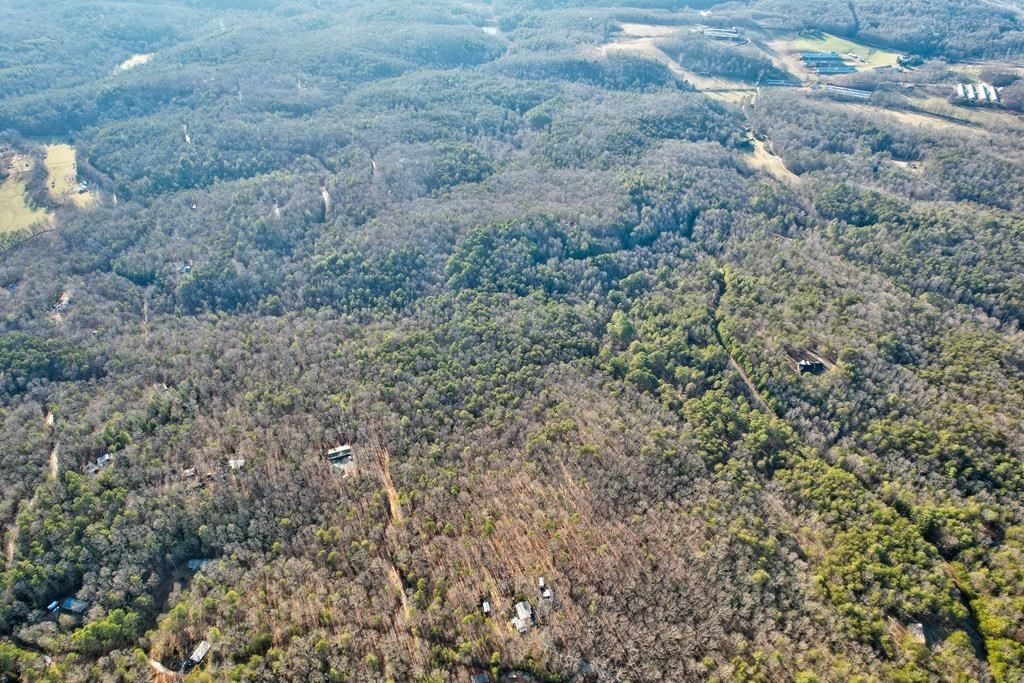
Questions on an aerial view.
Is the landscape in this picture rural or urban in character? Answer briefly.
rural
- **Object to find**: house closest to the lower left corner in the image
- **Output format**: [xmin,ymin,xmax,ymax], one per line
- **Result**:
[56,594,88,615]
